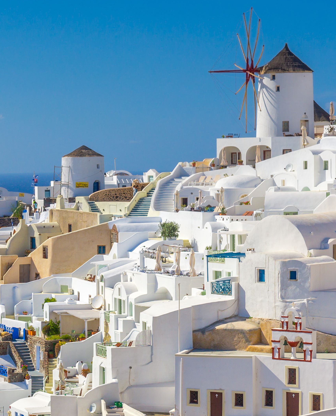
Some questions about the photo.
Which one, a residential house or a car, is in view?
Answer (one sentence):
The image shows a residential house.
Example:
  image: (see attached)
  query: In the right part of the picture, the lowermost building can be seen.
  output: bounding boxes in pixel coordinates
[169,349,336,416]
